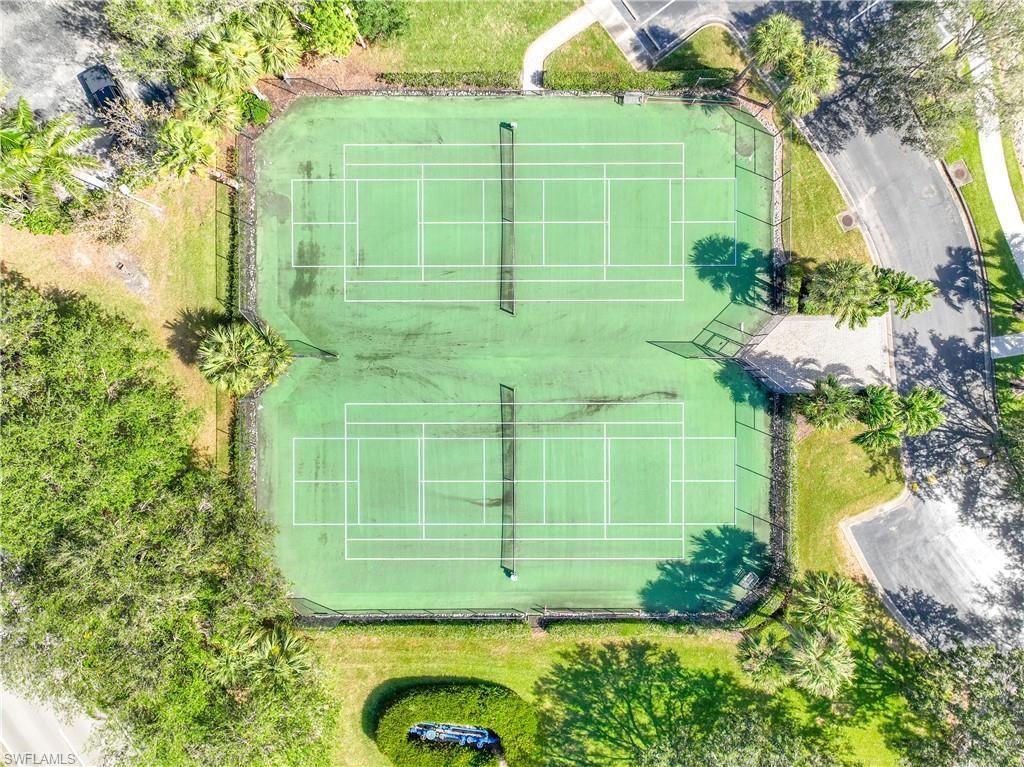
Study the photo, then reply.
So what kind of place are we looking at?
sports ground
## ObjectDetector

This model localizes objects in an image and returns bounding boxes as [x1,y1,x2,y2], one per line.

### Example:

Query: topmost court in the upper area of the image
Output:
[256,95,773,356]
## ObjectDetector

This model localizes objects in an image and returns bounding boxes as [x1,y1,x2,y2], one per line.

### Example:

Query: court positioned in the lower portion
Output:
[256,356,773,614]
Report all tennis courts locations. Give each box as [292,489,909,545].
[256,356,773,614]
[256,95,773,356]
